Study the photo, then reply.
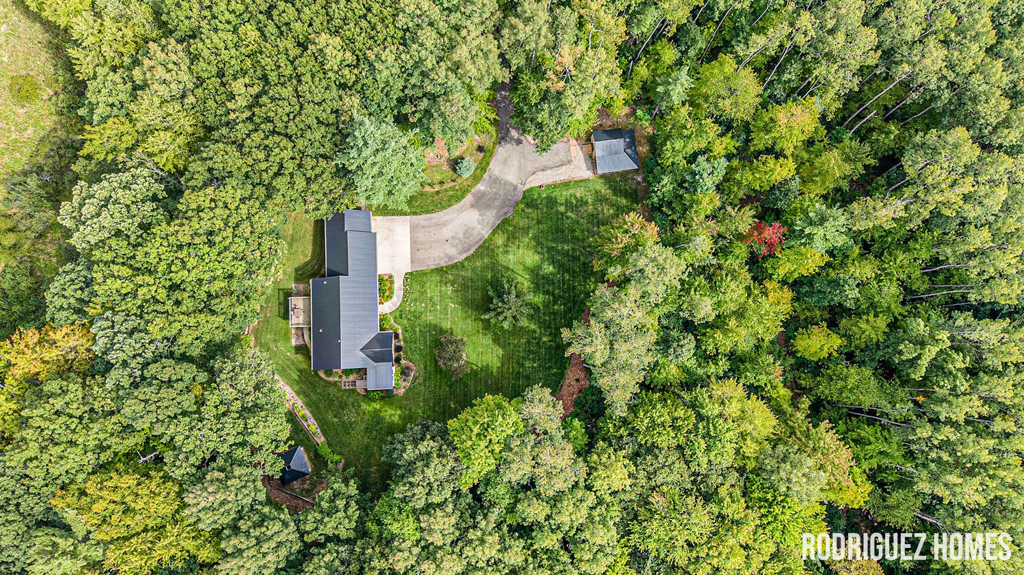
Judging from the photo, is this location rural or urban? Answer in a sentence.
The area is rural.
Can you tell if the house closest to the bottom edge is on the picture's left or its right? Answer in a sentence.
The house closest to the bottom edge sits on the left side.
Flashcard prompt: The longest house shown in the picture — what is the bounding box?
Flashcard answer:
[310,209,396,391]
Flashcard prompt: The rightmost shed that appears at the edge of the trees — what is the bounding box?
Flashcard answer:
[591,128,639,176]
